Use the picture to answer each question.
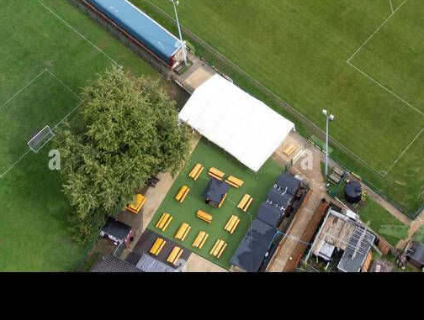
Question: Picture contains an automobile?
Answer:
No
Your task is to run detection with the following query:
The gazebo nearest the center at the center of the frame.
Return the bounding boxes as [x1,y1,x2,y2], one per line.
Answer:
[201,177,230,210]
